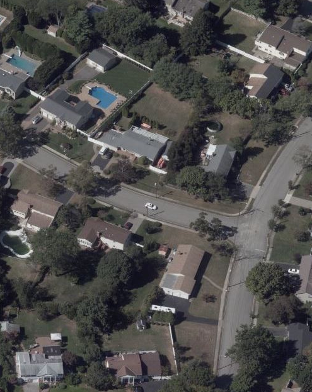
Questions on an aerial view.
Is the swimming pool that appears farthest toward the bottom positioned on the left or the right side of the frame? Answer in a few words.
left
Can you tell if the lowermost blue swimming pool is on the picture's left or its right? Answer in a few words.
left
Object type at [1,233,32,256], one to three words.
swimming pool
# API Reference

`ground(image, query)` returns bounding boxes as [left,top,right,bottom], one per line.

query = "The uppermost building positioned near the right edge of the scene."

[256,25,310,72]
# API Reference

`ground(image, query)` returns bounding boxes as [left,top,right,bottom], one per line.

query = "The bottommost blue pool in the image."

[87,85,118,110]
